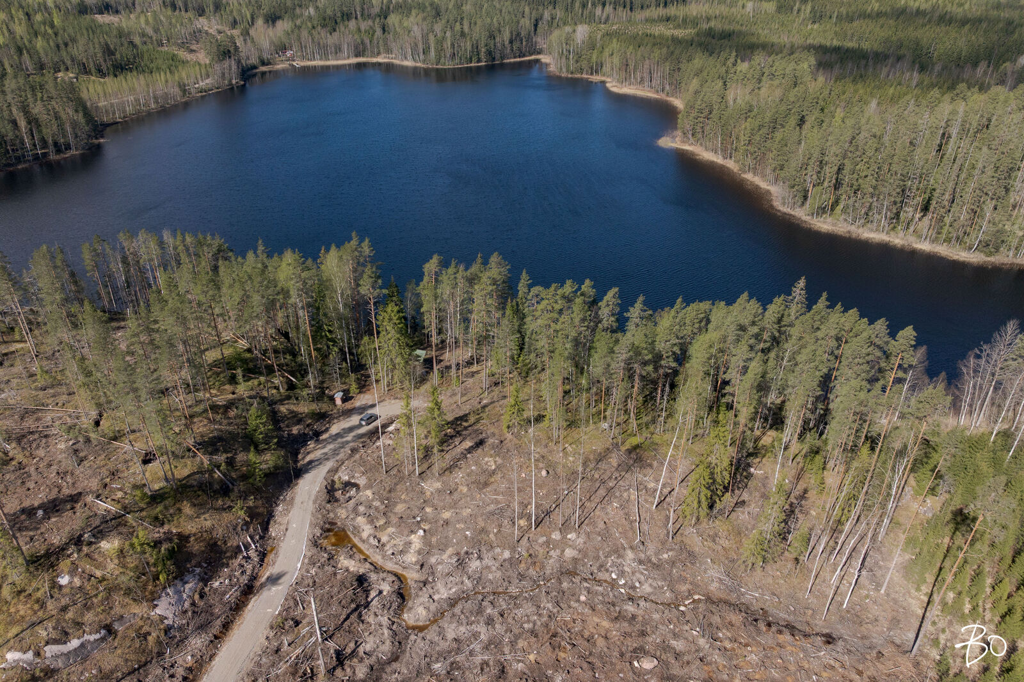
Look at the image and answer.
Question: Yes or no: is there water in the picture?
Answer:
Yes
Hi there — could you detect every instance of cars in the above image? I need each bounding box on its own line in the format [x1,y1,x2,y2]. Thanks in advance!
[358,414,381,428]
